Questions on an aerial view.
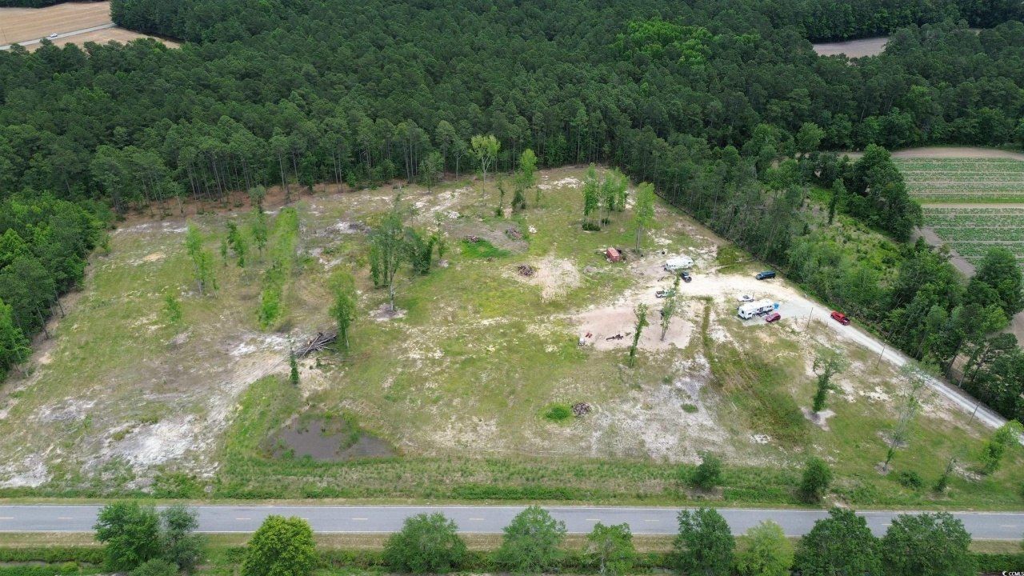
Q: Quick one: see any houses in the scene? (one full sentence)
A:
No, the frame has no house in it.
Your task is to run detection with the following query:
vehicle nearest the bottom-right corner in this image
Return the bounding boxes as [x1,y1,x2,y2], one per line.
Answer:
[831,313,853,326]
